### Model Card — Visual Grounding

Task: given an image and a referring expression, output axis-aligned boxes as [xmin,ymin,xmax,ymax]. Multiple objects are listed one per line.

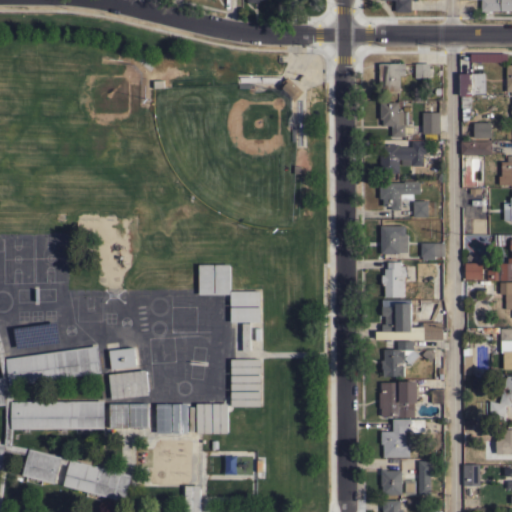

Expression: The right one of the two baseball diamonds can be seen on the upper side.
[155,91,294,230]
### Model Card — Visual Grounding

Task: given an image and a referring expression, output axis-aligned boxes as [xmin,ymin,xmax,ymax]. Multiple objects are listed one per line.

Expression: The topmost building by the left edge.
[6,346,102,382]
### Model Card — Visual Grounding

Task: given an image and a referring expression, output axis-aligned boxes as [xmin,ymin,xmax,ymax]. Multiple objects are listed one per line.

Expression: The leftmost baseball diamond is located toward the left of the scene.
[86,58,140,124]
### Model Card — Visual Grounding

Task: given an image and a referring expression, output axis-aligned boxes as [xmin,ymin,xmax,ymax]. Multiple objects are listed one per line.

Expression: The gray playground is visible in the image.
[0,236,235,404]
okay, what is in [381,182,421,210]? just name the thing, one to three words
house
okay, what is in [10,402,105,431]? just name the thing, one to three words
building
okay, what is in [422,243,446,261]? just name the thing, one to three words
building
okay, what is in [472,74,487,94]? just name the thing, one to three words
house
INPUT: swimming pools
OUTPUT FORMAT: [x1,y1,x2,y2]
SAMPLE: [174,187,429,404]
[420,405,439,416]
[478,346,489,370]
